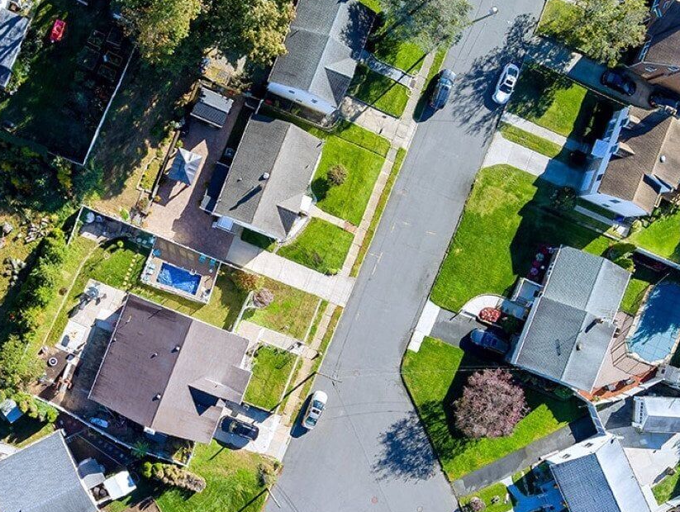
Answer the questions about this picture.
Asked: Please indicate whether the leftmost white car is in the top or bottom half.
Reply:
bottom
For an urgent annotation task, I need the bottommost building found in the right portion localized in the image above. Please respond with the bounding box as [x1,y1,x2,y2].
[542,436,650,512]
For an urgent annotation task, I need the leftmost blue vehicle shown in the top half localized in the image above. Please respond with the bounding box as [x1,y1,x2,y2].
[427,65,458,113]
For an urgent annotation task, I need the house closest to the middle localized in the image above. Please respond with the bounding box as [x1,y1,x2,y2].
[203,113,324,243]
